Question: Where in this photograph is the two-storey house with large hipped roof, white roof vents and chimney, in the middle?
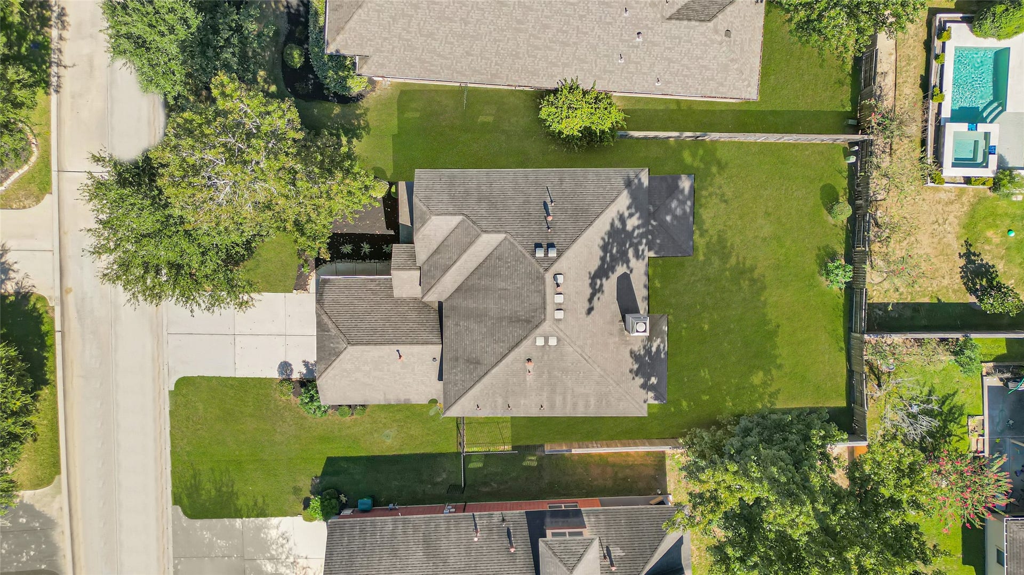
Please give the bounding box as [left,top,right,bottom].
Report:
[314,167,695,418]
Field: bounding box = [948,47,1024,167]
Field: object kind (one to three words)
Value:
swimming pool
